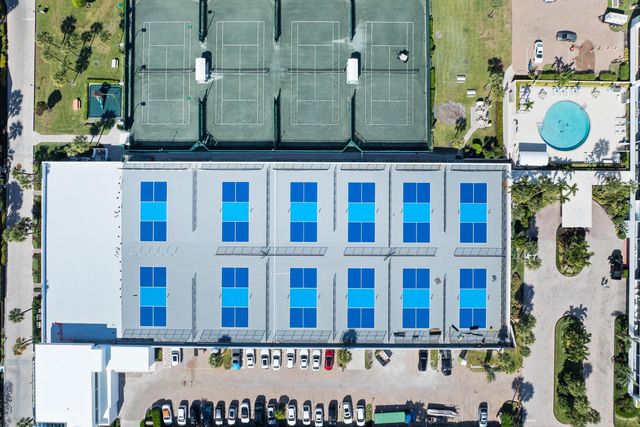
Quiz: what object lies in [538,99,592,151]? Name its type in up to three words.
swimming pool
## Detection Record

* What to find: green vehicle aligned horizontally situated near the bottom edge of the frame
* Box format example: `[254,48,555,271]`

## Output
[376,409,414,426]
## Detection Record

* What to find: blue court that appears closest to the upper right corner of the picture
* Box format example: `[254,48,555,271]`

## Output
[458,183,491,243]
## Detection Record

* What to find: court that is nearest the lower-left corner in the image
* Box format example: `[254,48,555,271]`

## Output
[136,266,169,326]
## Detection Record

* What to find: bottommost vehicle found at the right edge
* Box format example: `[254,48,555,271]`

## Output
[609,254,622,278]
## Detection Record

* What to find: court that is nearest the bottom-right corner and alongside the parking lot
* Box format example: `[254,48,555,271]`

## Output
[458,268,491,328]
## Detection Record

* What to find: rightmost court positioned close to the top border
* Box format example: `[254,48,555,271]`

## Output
[352,0,428,151]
